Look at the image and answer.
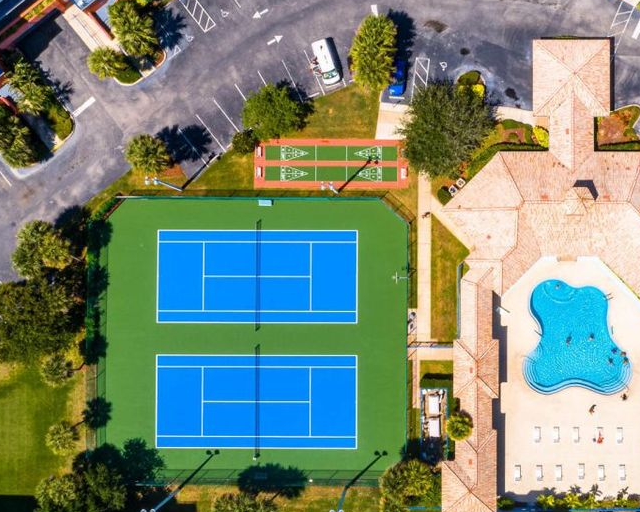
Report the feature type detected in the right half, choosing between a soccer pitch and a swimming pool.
swimming pool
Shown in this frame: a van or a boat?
van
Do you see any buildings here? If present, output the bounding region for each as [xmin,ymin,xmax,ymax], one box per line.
[441,39,640,512]
[0,0,111,89]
